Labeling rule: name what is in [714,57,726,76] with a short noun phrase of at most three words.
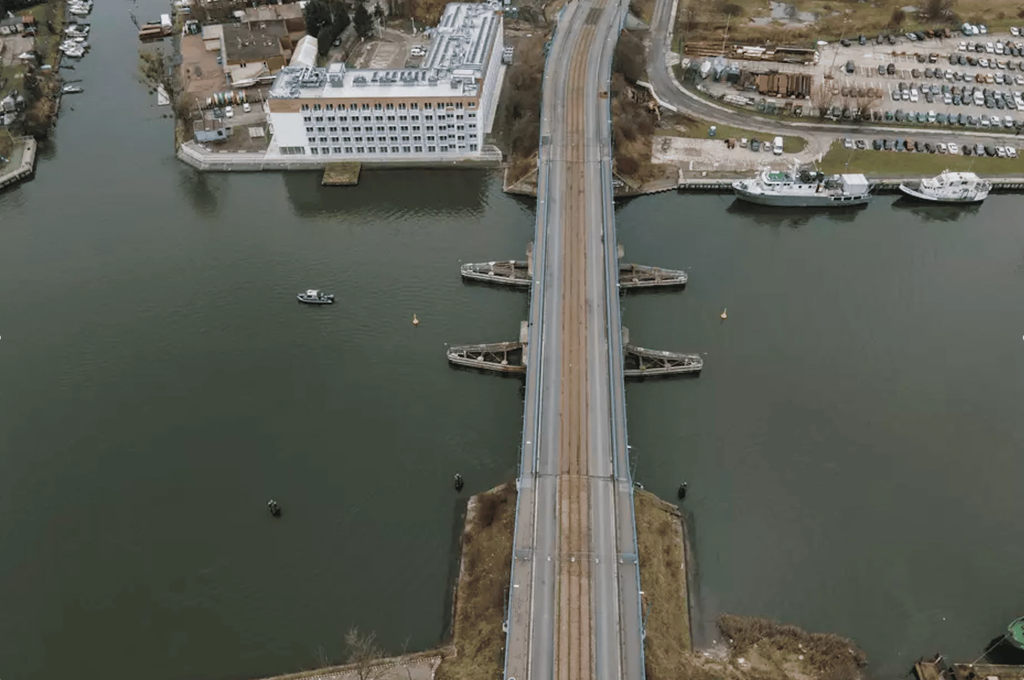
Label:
boat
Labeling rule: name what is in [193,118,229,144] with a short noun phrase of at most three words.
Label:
house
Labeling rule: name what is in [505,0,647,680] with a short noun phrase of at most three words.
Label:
bridge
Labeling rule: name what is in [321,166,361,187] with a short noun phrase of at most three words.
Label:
pier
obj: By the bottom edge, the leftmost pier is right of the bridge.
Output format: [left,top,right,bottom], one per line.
[910,651,950,680]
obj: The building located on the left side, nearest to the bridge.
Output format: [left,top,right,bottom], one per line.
[265,0,503,161]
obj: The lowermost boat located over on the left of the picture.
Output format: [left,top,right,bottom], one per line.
[296,288,336,307]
